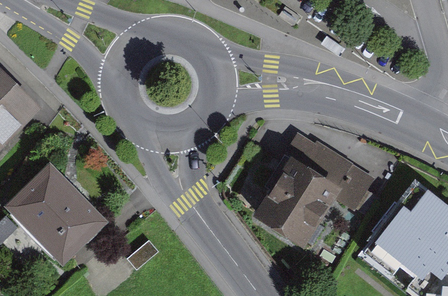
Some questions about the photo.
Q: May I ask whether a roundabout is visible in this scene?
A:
Yes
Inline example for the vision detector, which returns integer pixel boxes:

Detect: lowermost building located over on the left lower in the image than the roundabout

[126,241,158,271]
